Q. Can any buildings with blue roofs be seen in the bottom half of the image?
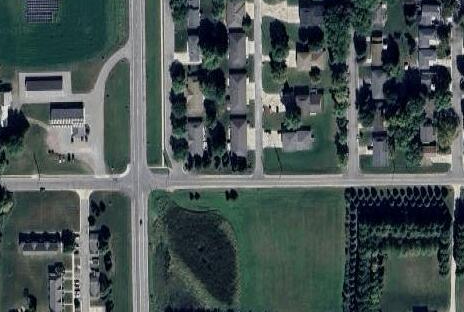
No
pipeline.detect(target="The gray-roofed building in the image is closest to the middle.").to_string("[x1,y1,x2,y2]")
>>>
[231,119,247,158]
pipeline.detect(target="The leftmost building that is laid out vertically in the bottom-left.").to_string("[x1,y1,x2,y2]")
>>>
[51,274,64,312]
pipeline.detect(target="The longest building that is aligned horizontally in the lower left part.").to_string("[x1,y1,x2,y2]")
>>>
[21,240,60,256]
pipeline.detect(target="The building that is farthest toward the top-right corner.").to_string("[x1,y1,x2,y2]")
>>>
[422,4,441,23]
